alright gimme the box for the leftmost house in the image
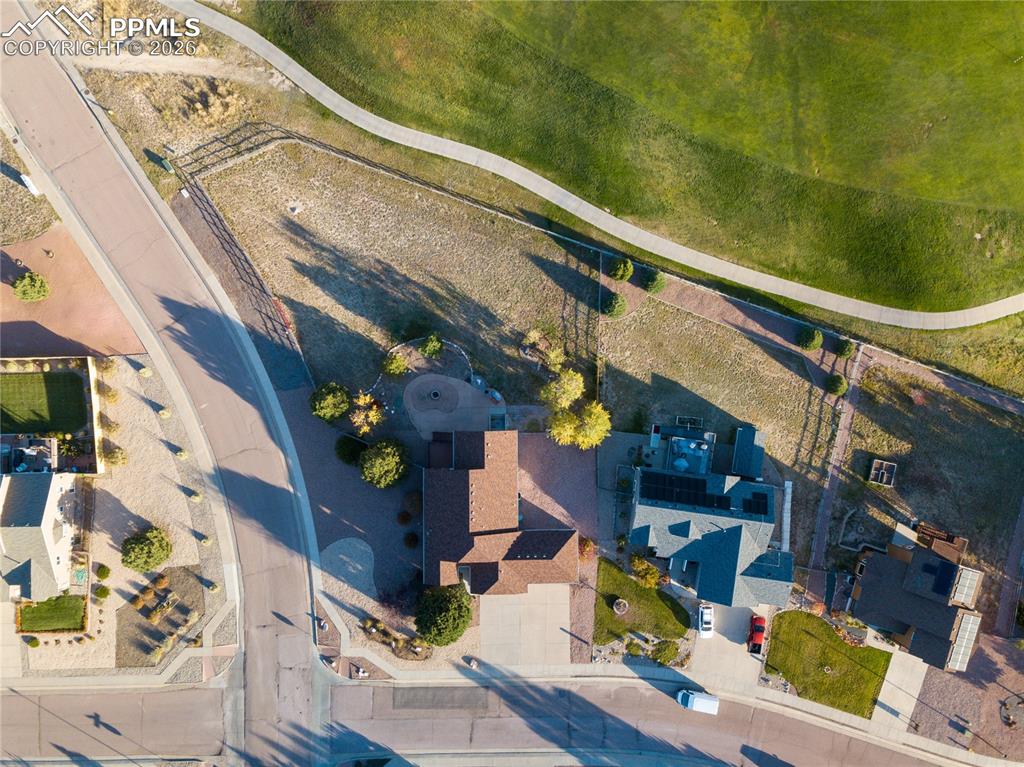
[0,458,74,599]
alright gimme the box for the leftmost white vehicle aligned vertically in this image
[700,604,716,638]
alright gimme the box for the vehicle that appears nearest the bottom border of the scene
[676,692,723,719]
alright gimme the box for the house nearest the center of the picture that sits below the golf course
[423,429,578,594]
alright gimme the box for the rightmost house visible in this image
[837,521,976,669]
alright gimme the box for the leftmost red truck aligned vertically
[746,616,768,658]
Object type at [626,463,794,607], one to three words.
house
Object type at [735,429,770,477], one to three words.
shed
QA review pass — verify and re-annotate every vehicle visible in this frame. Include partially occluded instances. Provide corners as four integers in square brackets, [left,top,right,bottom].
[746,616,768,658]
[676,692,723,719]
[700,604,716,638]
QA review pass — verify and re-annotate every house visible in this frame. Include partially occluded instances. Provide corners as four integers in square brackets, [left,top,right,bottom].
[423,429,578,594]
[626,463,794,607]
[837,521,976,669]
[0,458,74,599]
